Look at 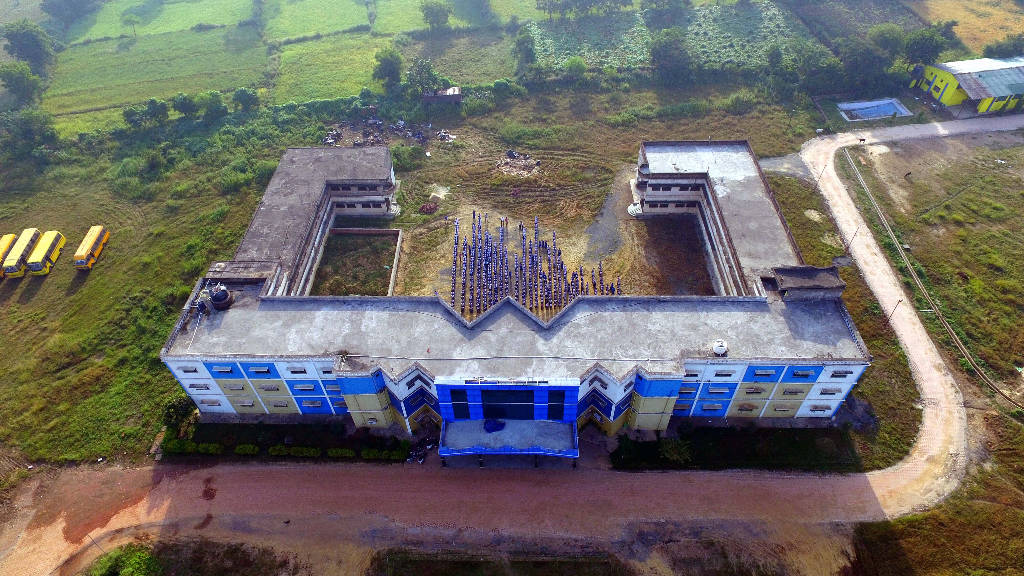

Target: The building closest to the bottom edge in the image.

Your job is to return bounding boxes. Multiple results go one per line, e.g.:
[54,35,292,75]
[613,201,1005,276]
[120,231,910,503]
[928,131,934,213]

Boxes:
[160,135,872,471]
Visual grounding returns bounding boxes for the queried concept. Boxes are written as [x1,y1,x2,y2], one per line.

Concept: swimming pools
[839,99,913,122]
